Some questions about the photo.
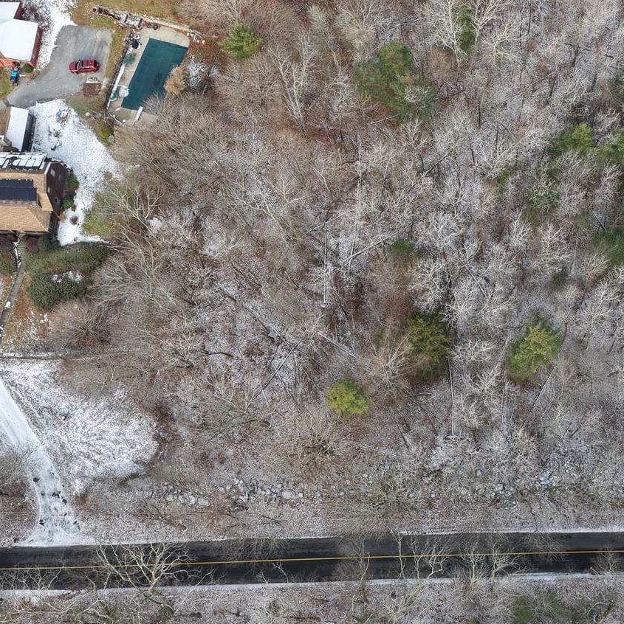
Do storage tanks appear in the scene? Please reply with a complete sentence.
No, the scene contains no storage tank.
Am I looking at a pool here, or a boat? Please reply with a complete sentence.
This aerial view contains a pool.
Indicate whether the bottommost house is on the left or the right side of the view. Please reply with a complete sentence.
The bottommost house sits on the left side.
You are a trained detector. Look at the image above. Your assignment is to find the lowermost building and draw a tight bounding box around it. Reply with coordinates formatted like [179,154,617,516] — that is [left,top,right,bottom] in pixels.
[0,152,70,238]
